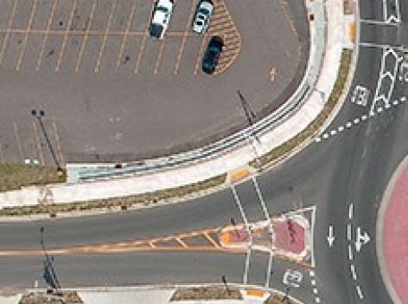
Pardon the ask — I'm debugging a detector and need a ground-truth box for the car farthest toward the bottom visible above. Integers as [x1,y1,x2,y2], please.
[202,37,223,72]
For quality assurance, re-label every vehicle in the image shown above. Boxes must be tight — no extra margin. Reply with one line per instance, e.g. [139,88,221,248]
[191,0,214,35]
[149,0,174,39]
[202,37,223,72]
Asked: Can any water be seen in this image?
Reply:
No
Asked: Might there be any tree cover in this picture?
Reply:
No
